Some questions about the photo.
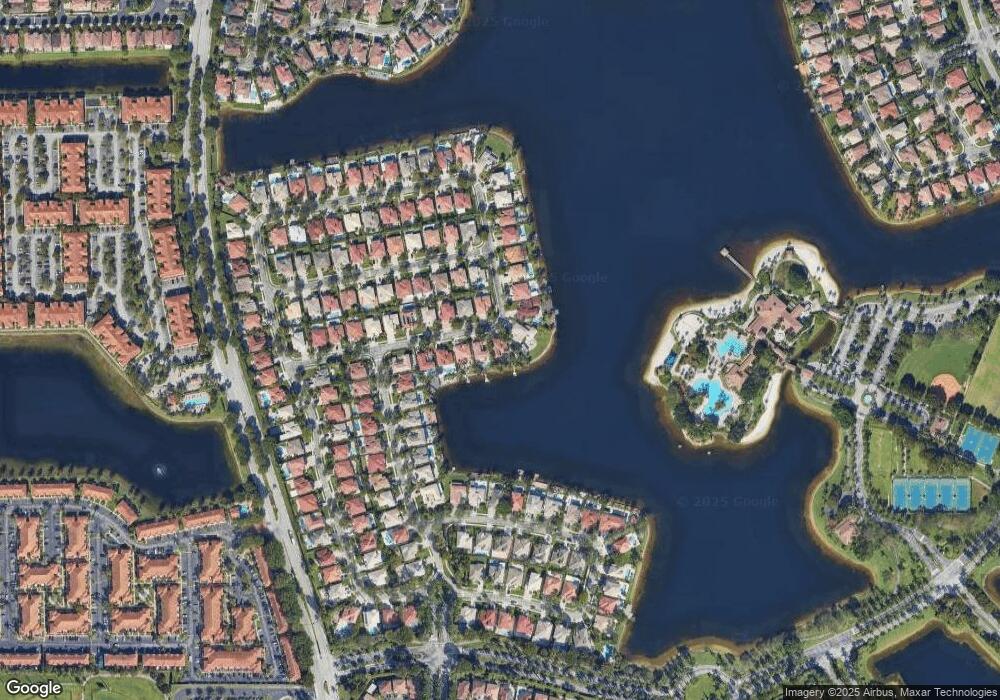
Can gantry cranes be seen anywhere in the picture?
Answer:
No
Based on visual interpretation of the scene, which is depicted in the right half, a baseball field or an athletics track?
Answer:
baseball field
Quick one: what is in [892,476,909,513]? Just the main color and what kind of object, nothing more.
blue tennis court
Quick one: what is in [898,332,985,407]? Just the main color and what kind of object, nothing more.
green baseball field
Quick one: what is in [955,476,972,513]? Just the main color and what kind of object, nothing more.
blue tennis court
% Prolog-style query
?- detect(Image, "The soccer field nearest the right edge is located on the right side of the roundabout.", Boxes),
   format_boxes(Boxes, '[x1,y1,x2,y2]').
[965,309,1000,420]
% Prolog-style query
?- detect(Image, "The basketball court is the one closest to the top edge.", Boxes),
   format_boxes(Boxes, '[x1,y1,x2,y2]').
[957,421,1000,468]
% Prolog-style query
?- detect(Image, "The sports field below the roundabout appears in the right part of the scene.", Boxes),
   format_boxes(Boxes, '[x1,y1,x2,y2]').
[869,426,893,500]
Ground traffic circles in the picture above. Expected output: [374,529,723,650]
[852,376,895,420]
